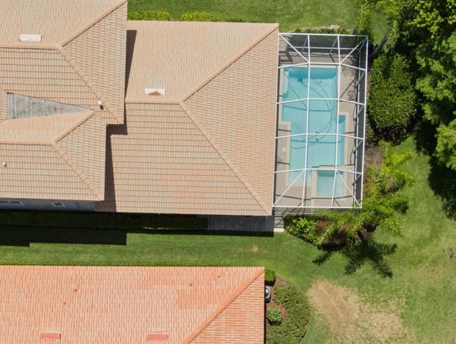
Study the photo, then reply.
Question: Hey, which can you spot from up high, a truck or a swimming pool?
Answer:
swimming pool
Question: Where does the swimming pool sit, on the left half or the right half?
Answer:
right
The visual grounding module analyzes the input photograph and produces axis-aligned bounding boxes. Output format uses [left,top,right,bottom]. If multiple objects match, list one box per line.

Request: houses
[0,0,281,219]
[0,264,266,344]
